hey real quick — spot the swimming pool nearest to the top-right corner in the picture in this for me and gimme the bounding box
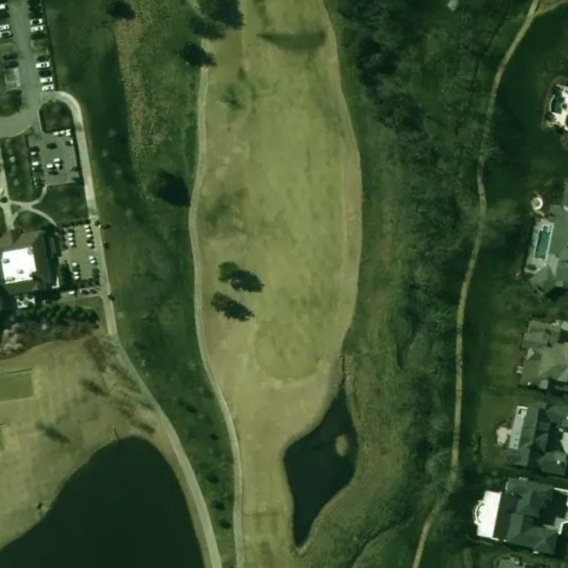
[550,87,567,113]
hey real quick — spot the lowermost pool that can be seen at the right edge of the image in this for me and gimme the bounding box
[535,226,551,259]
